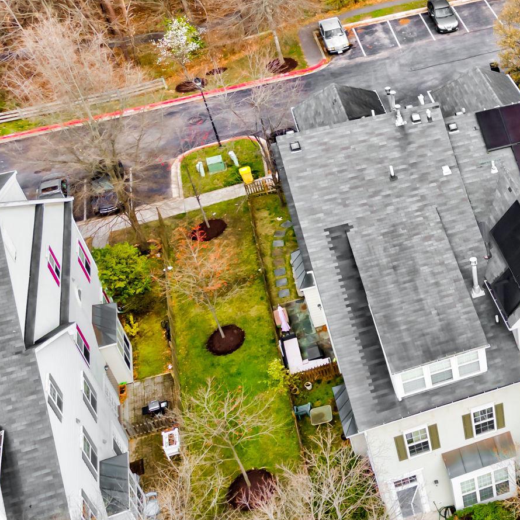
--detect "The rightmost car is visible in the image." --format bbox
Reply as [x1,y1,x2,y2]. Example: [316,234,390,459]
[424,0,460,33]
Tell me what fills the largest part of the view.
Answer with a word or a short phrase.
buildings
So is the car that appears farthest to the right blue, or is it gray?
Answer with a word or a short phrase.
gray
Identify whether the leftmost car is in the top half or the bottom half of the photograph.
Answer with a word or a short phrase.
top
